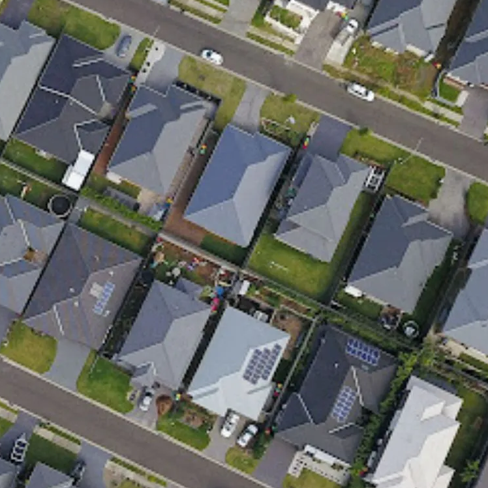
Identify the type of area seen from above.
residential area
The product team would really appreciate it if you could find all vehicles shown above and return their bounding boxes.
[337,18,361,46]
[116,33,135,58]
[348,82,375,101]
[72,458,89,482]
[201,48,225,65]
[221,411,240,438]
[140,386,156,412]
[240,425,259,448]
